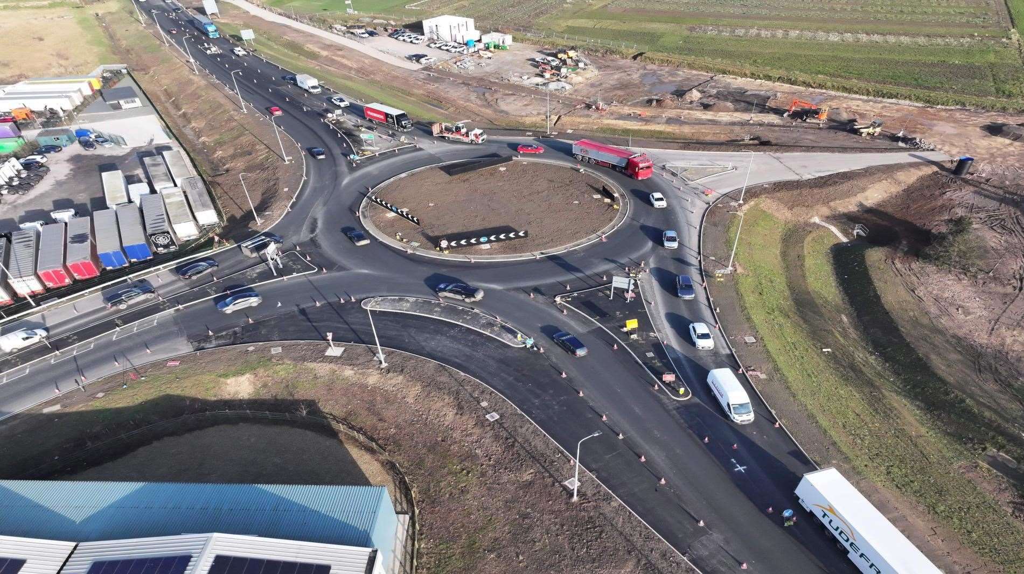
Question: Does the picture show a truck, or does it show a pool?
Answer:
truck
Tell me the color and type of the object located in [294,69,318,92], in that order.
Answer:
white vehicle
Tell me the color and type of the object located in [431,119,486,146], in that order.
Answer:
white truck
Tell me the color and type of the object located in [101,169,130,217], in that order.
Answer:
white trailer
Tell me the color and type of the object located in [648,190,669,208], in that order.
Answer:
white car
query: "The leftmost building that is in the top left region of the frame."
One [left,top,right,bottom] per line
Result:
[103,83,144,111]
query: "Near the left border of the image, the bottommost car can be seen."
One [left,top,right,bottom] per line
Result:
[0,326,47,352]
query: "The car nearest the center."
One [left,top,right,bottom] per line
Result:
[438,280,481,301]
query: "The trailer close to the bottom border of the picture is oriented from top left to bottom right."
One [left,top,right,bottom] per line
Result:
[796,466,942,574]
